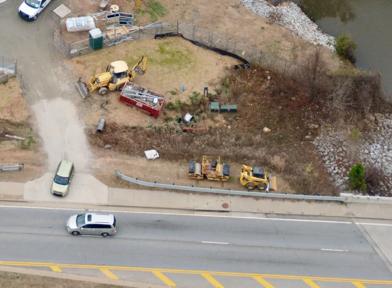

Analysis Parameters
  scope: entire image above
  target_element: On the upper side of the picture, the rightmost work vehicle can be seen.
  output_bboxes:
[79,49,144,108]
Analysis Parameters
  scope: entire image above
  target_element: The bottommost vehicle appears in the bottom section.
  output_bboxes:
[66,215,117,239]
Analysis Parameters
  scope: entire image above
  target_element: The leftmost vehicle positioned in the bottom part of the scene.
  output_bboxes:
[51,158,75,199]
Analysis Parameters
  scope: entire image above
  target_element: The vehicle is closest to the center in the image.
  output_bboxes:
[188,160,230,183]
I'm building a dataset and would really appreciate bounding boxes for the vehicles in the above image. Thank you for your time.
[66,215,117,239]
[51,158,75,199]
[188,160,230,183]
[16,0,49,17]
[244,168,275,193]
[79,49,144,108]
